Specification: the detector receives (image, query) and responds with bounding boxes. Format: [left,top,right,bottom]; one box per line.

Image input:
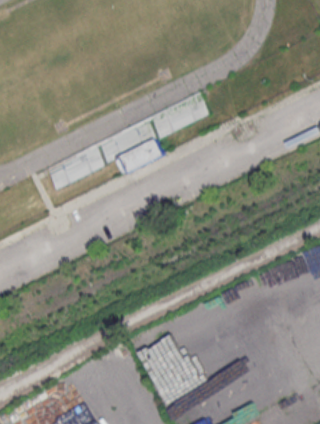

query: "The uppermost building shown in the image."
[152,91,212,139]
